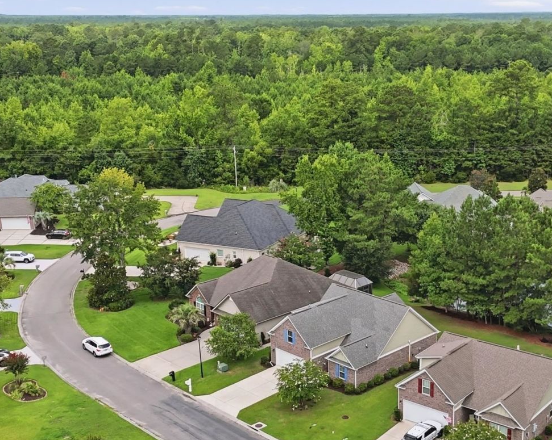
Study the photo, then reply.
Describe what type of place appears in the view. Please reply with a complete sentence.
The area seen from above is a residential area.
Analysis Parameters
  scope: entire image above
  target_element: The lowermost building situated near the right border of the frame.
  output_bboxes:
[392,331,552,440]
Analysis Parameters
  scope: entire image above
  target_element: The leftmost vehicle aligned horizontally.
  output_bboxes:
[1,248,38,263]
